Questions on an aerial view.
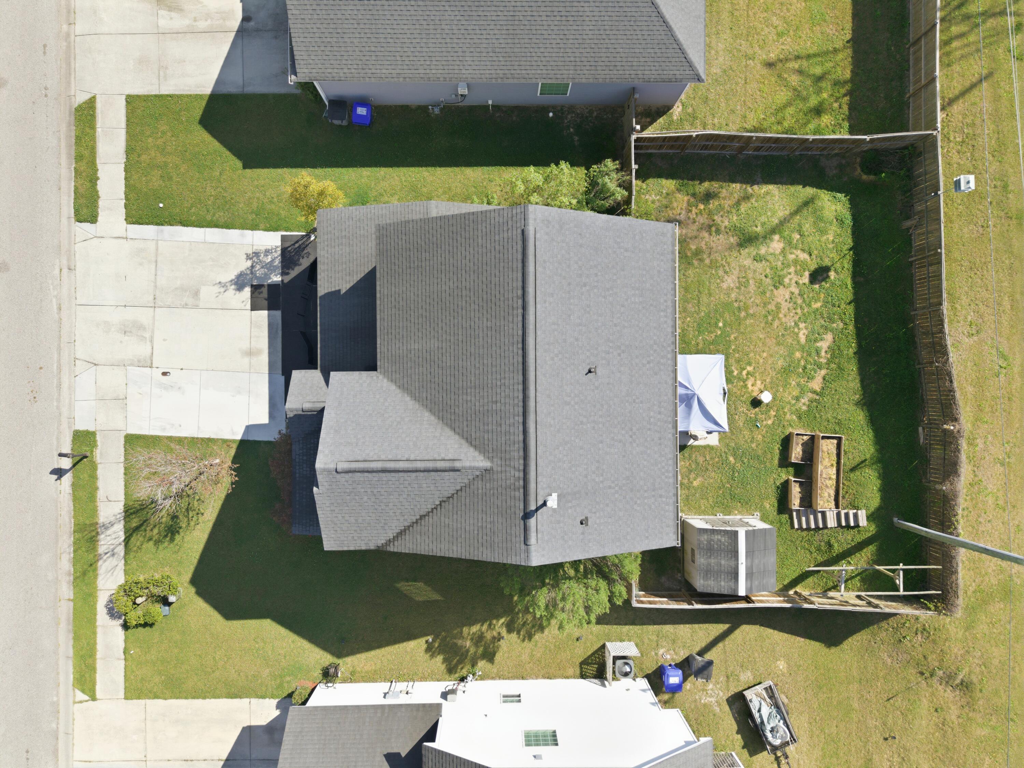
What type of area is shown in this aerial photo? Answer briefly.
residential area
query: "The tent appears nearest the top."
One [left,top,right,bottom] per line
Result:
[681,354,728,432]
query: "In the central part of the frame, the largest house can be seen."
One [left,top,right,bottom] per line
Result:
[286,199,683,564]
